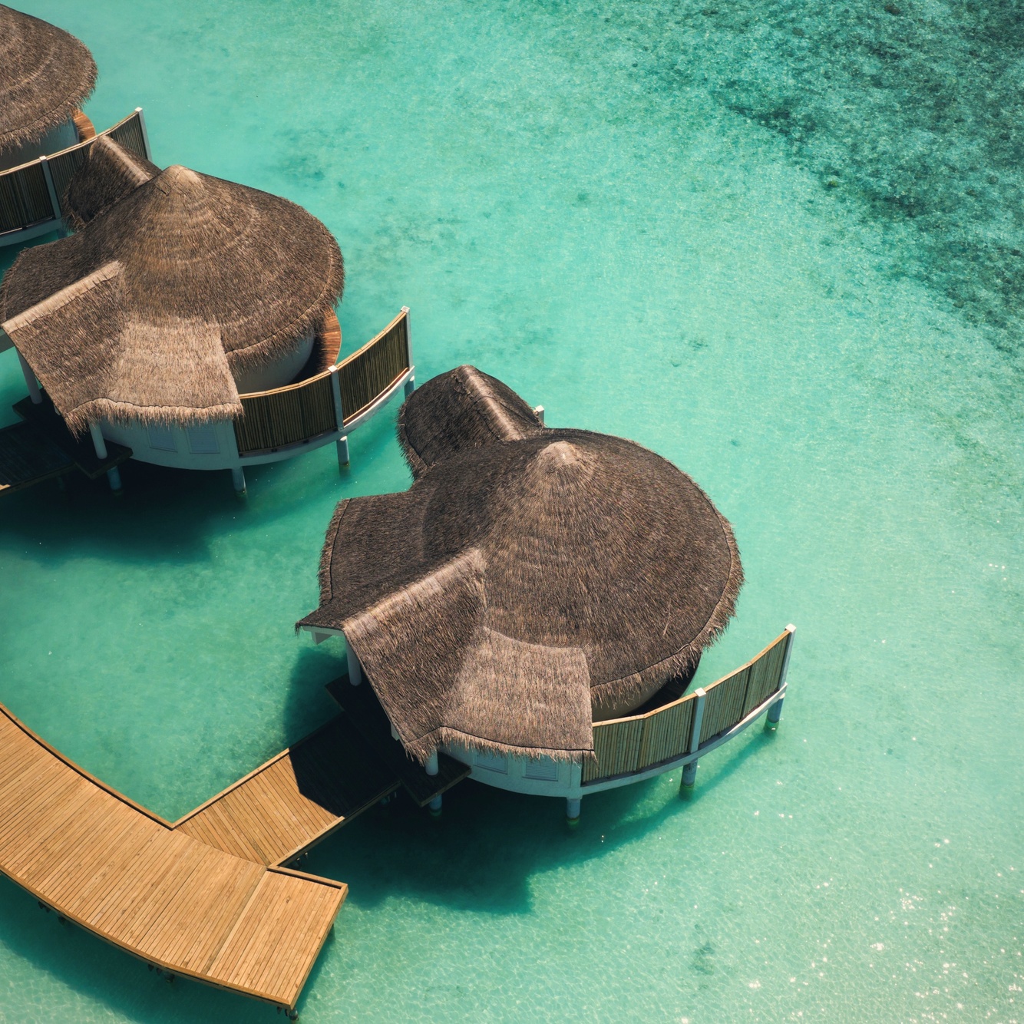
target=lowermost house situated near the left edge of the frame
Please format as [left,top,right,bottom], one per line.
[0,136,357,519]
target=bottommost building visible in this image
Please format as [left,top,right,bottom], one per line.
[285,360,746,842]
